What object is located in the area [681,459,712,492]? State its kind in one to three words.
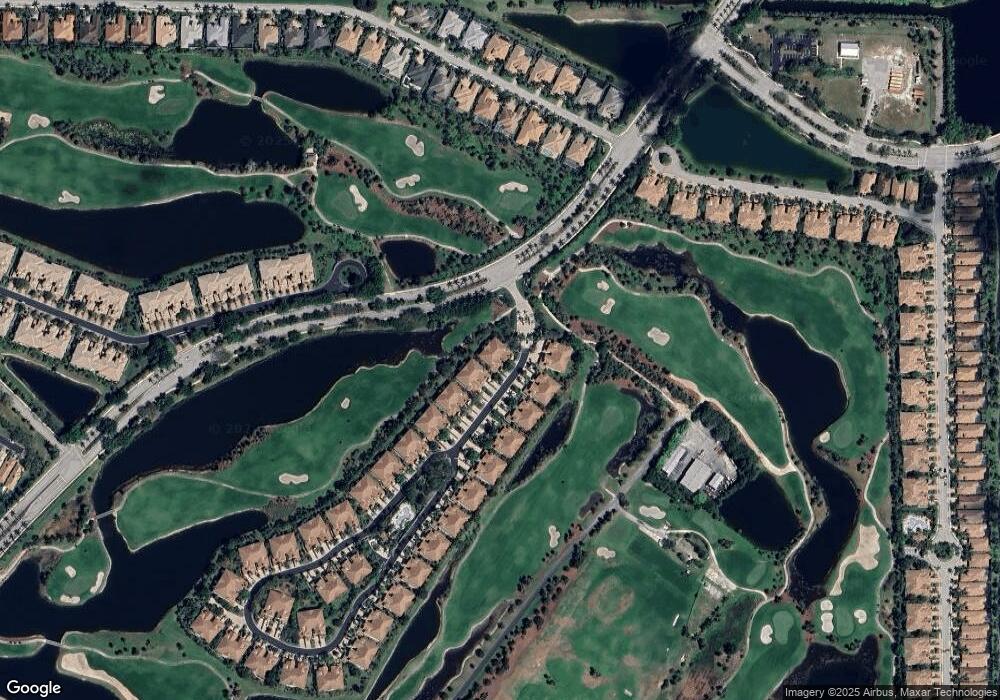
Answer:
building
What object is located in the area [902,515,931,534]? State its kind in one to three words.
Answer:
swimming pool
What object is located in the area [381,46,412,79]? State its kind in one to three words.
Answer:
house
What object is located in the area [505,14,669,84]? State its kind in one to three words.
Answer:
pond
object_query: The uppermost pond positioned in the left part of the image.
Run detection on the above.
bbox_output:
[173,61,386,166]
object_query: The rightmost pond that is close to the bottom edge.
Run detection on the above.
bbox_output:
[776,636,877,700]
